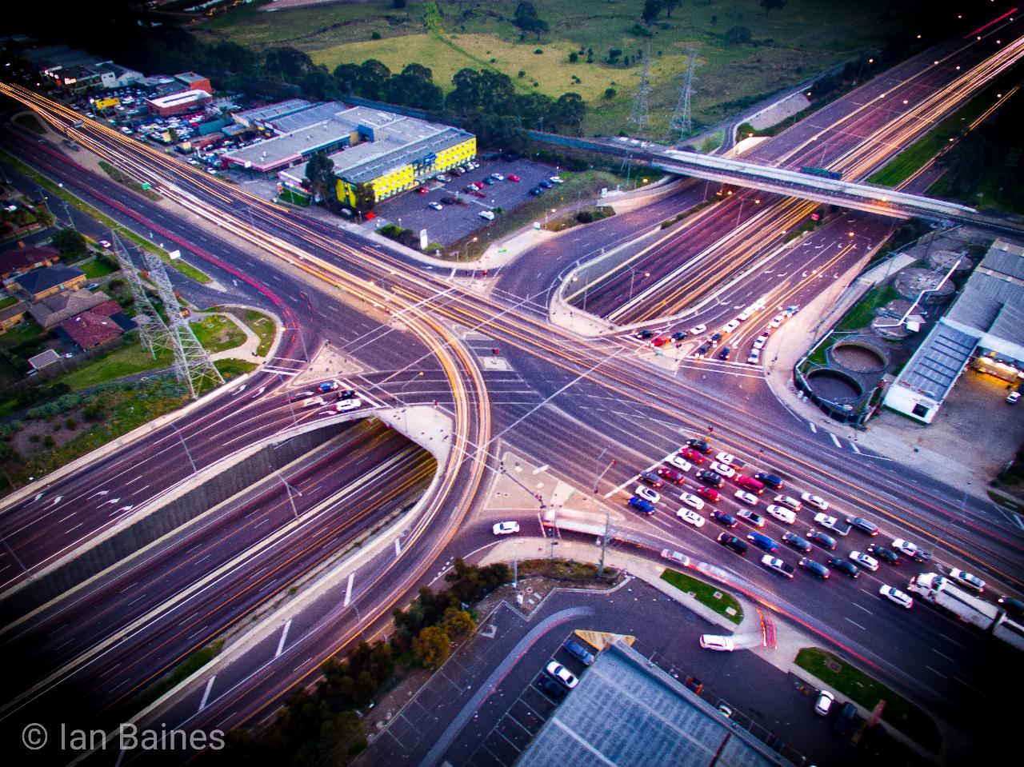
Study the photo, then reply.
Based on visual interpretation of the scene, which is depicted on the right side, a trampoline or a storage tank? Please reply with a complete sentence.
You can see a storage tank on the right side.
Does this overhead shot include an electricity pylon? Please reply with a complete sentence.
Yes, the photo shows an electricity pylon.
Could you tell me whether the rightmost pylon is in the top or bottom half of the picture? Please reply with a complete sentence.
The rightmost pylon is in the top half of the image.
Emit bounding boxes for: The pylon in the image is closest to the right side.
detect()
[663,45,704,138]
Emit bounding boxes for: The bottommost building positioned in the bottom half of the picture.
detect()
[528,637,800,767]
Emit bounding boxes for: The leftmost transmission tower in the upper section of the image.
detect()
[96,228,182,364]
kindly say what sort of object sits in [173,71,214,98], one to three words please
building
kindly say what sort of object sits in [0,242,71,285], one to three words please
house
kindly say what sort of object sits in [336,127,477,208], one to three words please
building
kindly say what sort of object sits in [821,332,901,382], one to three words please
storage tank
